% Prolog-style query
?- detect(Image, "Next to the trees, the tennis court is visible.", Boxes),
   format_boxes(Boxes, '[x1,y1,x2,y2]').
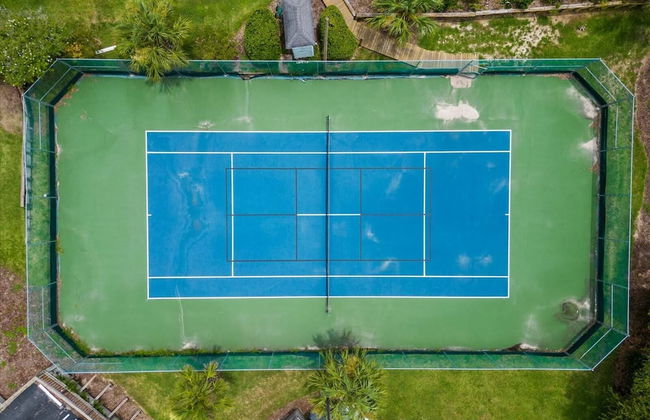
[55,74,602,354]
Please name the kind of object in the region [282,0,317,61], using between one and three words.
shed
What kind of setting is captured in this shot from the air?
sports ground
